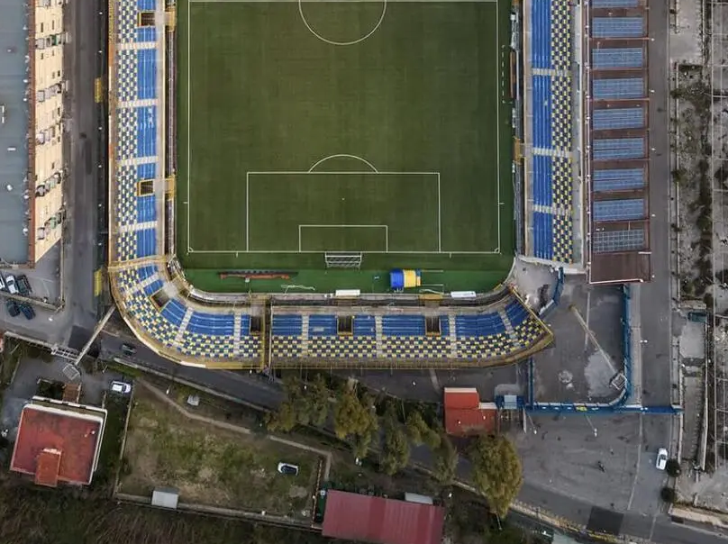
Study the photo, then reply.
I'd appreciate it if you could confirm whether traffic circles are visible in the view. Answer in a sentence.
No, there's no traffic circle here.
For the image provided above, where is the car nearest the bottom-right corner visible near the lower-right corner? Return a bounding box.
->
[657,451,669,472]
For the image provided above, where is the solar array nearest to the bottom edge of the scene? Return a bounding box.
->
[594,229,645,252]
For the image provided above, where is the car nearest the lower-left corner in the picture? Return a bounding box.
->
[109,382,130,395]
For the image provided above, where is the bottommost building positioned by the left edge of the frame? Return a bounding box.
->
[11,396,109,487]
